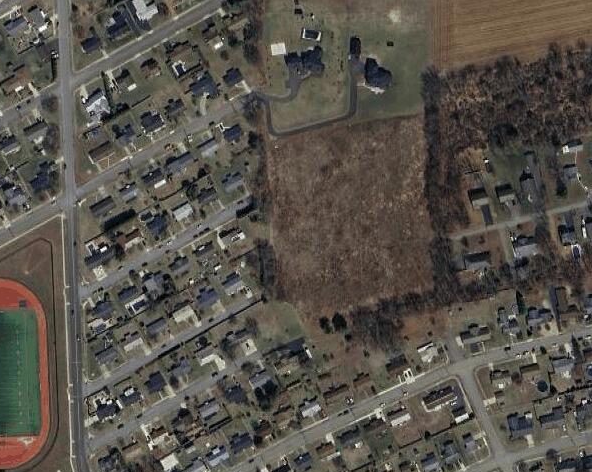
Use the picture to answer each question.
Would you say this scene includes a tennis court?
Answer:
No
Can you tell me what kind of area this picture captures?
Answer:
residential area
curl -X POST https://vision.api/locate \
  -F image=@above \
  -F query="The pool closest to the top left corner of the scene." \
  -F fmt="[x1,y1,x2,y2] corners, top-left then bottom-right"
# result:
[172,60,189,78]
